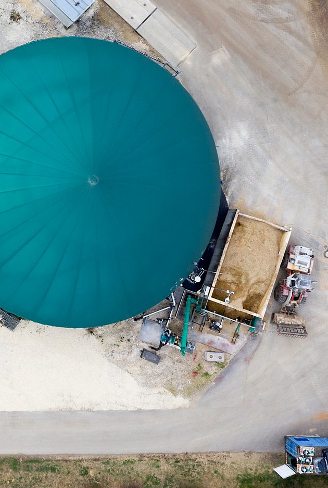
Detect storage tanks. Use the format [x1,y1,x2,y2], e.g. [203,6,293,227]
[0,36,224,329]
